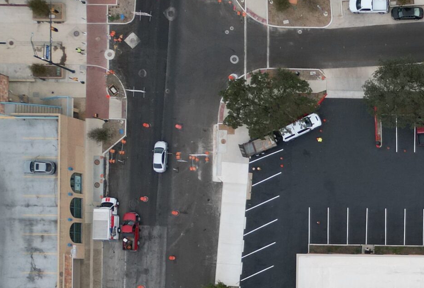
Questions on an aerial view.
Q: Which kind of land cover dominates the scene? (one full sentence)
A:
What you mostly see from above here is paved ground.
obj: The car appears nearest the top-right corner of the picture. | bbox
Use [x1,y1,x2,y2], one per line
[391,5,424,22]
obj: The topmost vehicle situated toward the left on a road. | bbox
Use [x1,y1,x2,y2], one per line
[150,141,169,173]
